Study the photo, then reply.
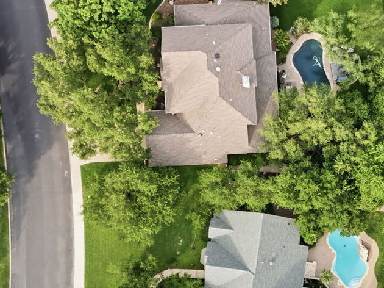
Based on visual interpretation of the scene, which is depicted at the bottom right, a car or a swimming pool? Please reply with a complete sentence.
There is a swimming pool at the bottom right.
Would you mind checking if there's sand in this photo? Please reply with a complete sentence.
No, sand can't be seen anywhere here.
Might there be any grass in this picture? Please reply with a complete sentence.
Yes, there is grass in the image.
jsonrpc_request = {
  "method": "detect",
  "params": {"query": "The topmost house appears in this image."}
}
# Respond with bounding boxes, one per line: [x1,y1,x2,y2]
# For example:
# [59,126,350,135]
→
[145,1,280,166]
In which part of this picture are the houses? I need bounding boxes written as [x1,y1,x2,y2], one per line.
[205,211,309,288]
[145,1,280,166]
